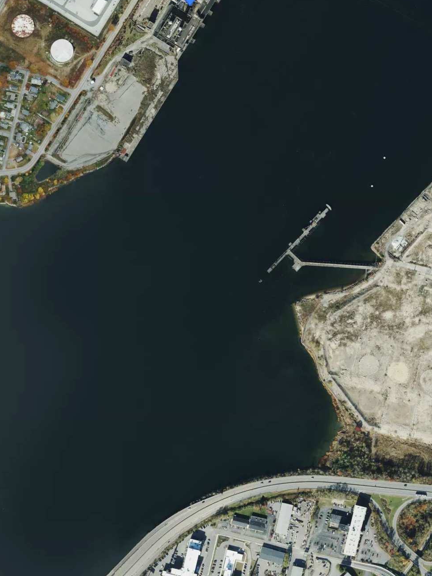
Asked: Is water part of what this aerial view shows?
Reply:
Yes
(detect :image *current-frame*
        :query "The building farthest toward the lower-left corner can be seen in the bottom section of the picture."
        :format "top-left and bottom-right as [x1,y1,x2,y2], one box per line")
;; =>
[163,539,202,576]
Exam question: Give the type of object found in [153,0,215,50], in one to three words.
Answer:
building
